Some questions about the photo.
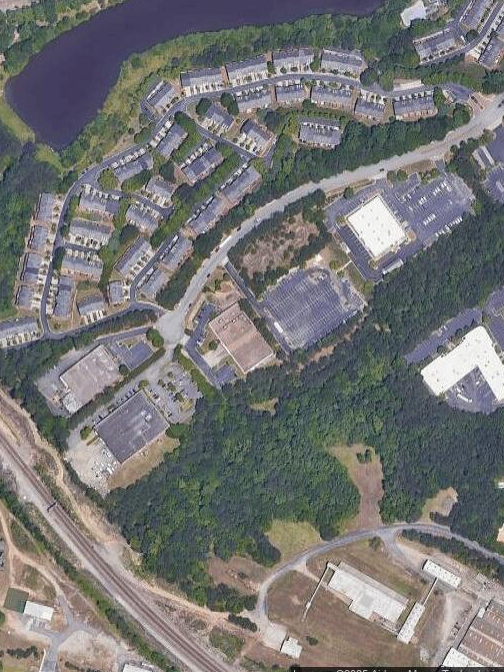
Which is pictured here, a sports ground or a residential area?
residential area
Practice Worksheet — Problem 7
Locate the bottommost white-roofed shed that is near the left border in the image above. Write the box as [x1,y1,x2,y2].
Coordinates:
[23,599,54,622]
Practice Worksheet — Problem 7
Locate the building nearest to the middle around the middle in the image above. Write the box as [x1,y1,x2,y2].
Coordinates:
[210,302,275,373]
